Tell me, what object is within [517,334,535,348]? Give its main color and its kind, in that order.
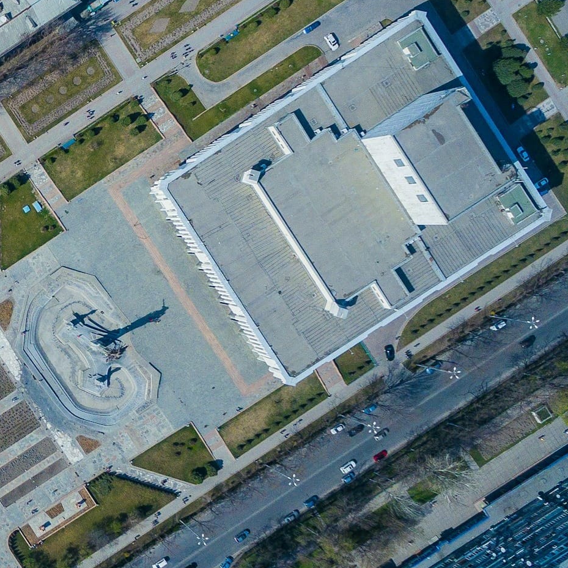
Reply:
black car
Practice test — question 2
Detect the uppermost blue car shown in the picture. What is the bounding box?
[302,20,319,35]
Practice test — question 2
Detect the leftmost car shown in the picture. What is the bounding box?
[150,555,169,568]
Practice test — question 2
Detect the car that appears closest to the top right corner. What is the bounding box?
[514,146,527,163]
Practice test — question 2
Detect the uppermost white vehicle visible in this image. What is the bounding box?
[323,32,338,51]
